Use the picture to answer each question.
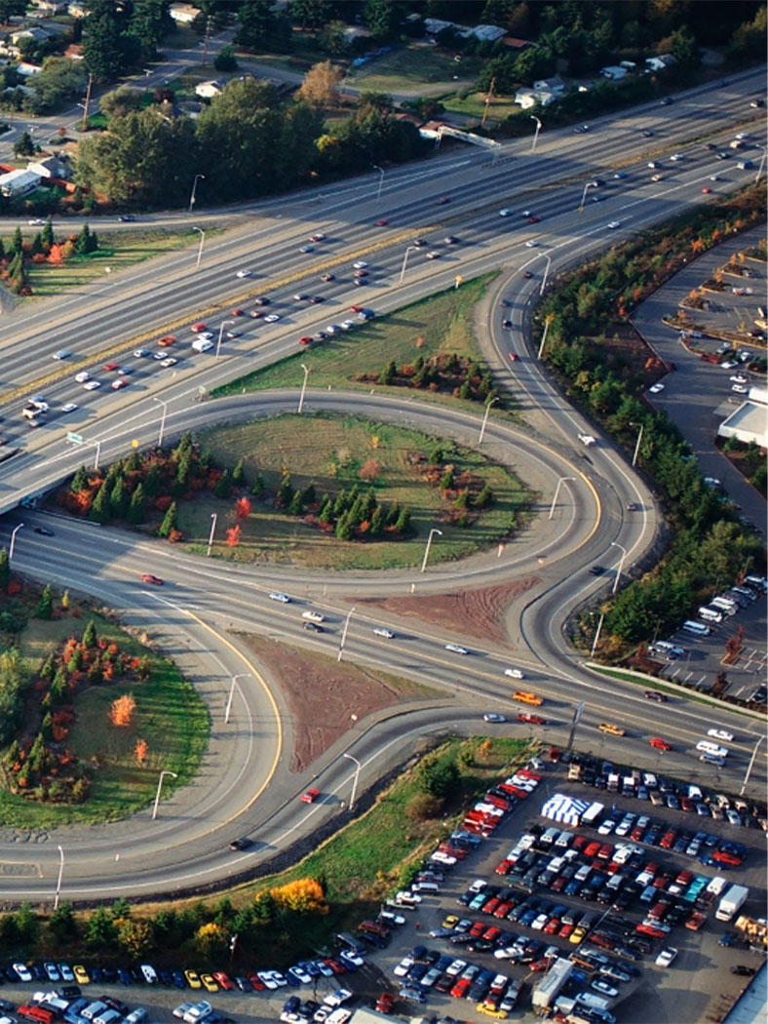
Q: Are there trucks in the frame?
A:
Yes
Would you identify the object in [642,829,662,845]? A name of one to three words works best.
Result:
car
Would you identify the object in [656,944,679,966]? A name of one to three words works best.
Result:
truck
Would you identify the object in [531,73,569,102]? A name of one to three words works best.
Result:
house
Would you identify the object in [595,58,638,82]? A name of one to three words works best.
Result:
house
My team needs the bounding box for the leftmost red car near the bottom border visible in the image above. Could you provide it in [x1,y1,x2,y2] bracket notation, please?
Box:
[21,1007,49,1023]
